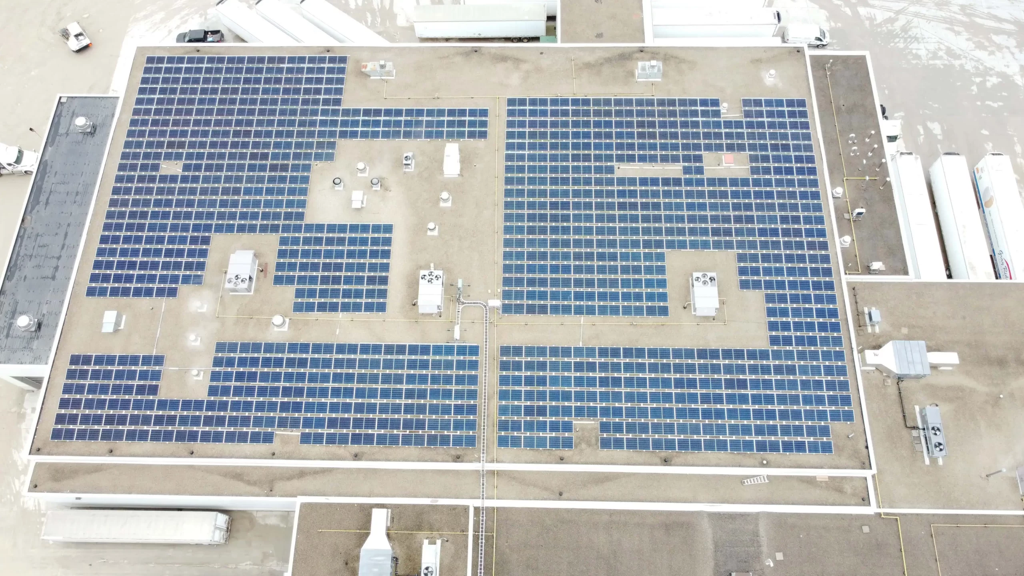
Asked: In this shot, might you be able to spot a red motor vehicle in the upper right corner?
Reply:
No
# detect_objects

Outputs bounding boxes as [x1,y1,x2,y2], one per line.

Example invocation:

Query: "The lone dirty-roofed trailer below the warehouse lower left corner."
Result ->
[41,508,233,543]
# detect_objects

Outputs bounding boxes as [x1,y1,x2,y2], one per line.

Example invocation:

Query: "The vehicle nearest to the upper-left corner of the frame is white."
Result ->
[60,17,99,56]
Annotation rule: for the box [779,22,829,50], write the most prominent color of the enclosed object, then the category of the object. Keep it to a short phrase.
white van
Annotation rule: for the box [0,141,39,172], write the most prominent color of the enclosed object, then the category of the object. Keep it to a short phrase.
white truck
